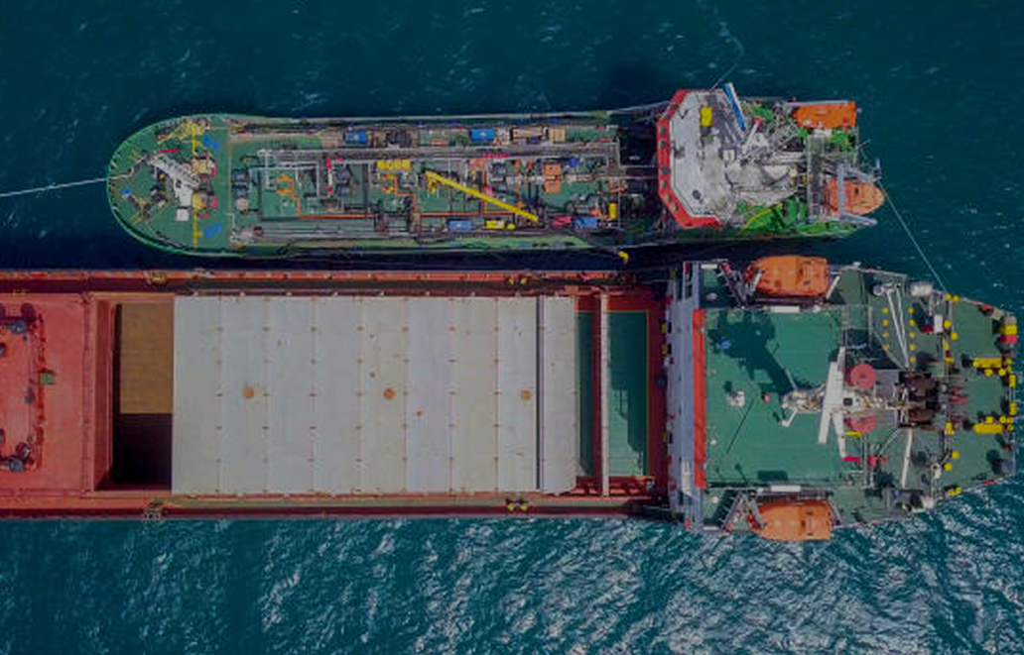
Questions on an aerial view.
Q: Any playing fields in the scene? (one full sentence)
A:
No, the scene contains no playing field.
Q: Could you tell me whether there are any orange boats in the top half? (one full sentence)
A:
Yes, an orange boat is visible in the top half.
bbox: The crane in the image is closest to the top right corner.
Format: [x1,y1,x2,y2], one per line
[866,283,911,365]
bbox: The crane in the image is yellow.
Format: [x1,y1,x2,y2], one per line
[423,172,538,222]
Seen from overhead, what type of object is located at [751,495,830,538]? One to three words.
boat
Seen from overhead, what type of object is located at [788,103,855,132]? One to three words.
boat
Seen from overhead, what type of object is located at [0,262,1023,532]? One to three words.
ship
